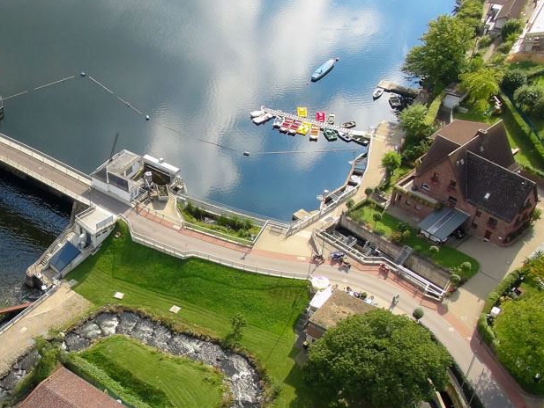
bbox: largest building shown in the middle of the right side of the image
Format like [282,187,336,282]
[390,120,542,245]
